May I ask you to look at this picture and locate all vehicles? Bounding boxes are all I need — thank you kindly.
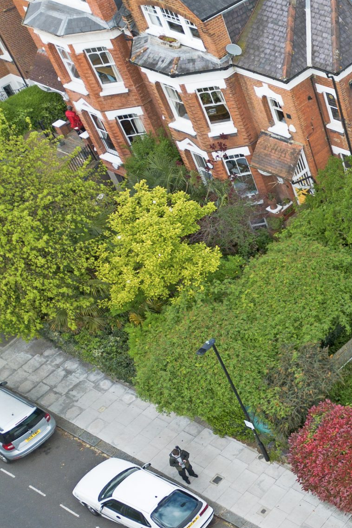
[76,458,221,528]
[0,386,60,463]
